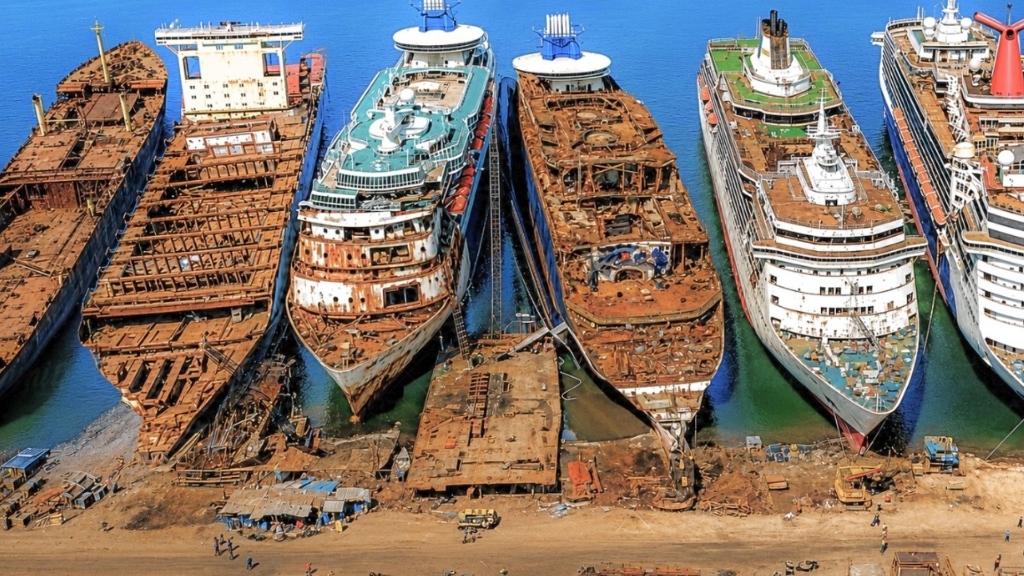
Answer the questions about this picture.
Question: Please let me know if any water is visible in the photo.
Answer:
Yes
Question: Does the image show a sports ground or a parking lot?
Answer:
parking lot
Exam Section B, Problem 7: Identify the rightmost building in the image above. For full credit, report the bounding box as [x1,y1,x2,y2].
[745,431,767,456]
